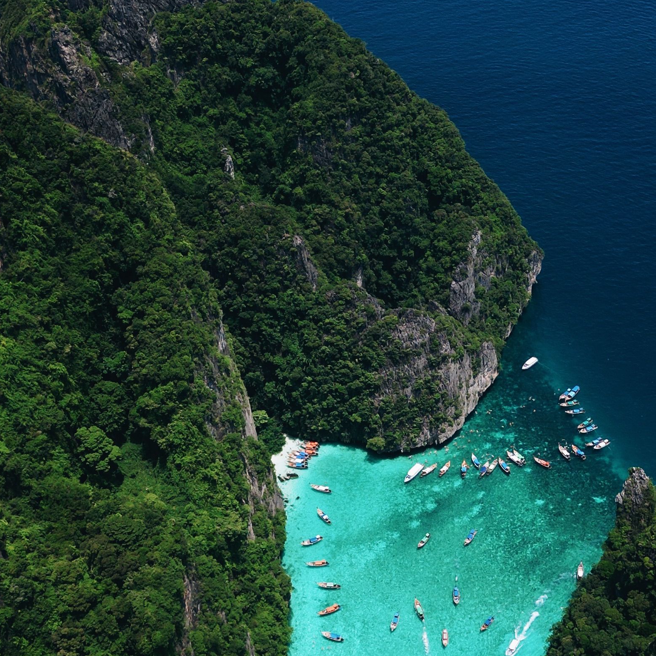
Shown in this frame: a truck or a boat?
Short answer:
boat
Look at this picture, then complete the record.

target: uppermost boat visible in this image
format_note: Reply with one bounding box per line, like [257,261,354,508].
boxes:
[522,354,541,368]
